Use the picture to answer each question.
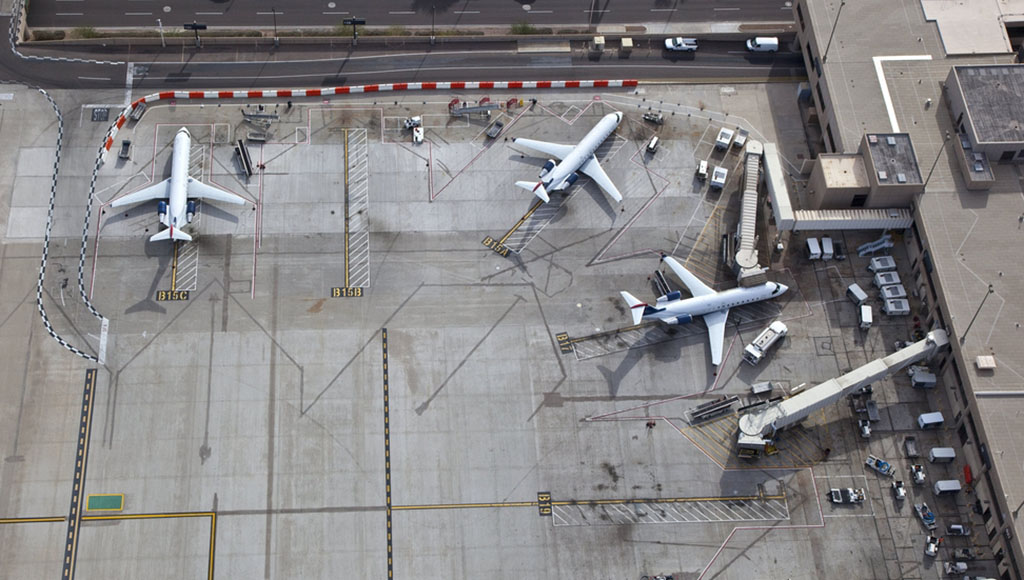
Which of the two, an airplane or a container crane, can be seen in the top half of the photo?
airplane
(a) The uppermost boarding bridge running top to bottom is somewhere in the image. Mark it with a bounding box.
[732,141,771,287]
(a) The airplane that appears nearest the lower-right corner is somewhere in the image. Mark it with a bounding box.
[620,254,788,364]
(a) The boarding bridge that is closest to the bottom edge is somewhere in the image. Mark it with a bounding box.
[734,335,950,459]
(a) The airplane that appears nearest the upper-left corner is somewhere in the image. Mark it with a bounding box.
[106,129,248,243]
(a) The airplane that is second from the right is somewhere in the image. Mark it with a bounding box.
[508,113,625,203]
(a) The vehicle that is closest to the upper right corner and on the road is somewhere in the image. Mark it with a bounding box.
[746,37,780,53]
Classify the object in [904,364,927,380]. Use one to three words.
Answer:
work vehicle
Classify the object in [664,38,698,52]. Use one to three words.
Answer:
vehicle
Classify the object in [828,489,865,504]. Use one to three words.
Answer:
work vehicle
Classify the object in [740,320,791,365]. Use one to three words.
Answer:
truck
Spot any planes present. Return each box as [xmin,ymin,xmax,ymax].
[620,254,788,364]
[106,129,248,243]
[508,113,625,203]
